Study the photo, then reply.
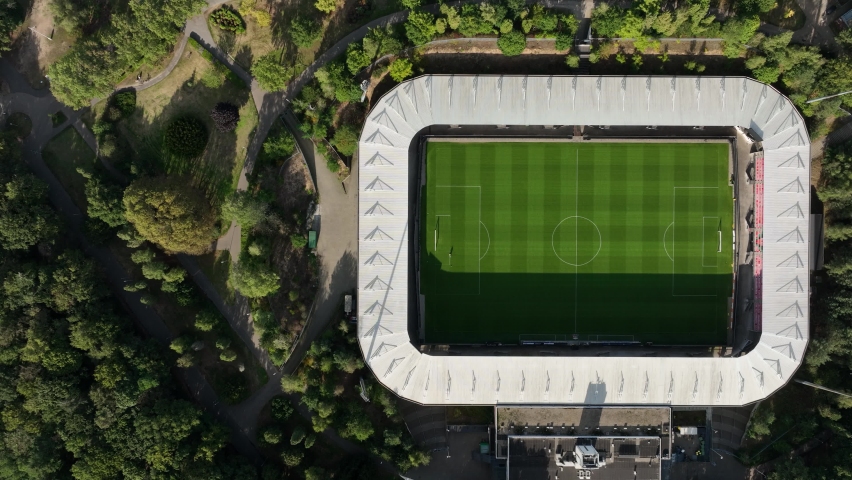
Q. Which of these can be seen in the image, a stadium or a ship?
stadium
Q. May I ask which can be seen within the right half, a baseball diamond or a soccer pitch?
soccer pitch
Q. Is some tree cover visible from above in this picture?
Yes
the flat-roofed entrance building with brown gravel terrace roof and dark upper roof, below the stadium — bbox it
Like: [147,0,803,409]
[493,408,672,480]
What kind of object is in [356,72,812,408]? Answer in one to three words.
stadium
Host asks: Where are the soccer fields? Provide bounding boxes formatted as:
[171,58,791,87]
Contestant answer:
[420,138,733,346]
